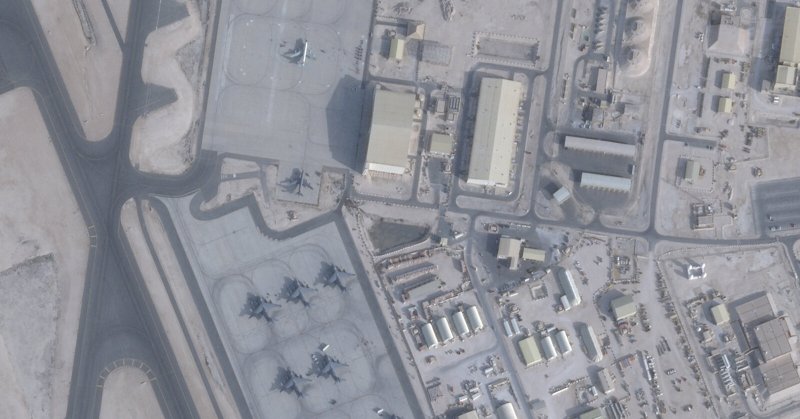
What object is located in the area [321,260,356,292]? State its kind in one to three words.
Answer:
airplane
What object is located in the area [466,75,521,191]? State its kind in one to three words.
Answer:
building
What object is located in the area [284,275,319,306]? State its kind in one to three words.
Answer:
airplane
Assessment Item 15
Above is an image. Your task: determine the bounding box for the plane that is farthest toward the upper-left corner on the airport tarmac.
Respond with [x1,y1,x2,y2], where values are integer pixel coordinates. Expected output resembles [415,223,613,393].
[291,41,320,65]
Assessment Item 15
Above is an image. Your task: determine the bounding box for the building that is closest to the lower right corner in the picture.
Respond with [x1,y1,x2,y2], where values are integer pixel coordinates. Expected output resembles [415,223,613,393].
[753,353,800,399]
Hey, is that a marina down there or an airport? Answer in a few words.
airport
